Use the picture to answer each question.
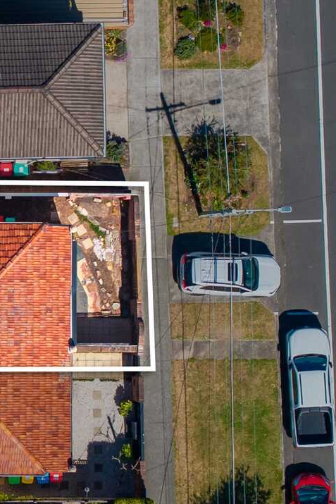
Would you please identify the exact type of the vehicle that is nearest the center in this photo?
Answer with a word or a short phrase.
automobile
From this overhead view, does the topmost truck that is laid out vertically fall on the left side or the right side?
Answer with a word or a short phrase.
right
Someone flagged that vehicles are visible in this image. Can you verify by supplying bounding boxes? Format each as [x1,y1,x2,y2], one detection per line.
[291,471,336,504]
[176,250,281,299]
[284,325,336,447]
